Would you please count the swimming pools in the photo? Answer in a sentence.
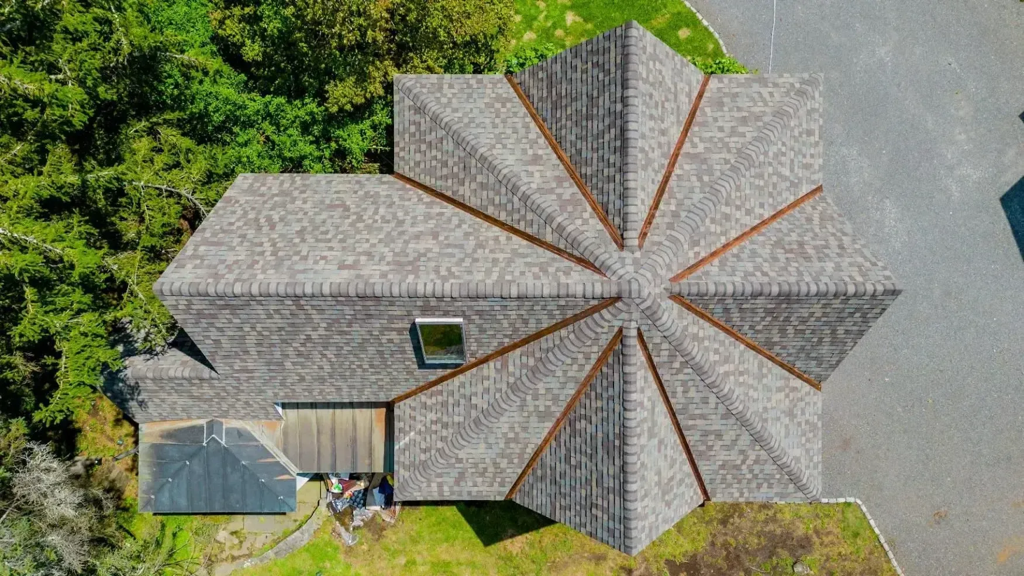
No swimming pools are visible.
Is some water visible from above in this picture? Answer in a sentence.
No, the picture contains no water.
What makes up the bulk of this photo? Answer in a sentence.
For the most part, this view shows buildings.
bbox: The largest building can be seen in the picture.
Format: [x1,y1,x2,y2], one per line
[94,20,903,556]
